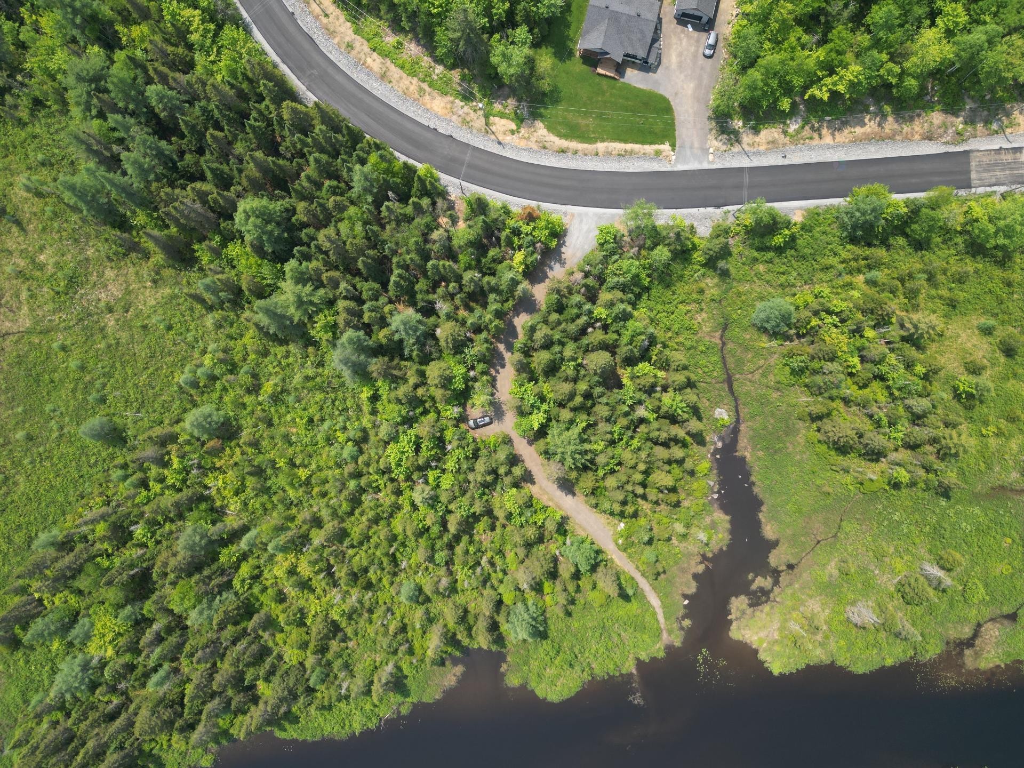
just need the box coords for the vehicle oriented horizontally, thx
[468,416,494,429]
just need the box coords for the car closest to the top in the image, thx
[703,30,718,59]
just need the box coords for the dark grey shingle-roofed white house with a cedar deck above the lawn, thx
[577,0,659,81]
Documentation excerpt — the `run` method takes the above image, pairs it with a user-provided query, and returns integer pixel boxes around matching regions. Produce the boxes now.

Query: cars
[468,416,494,429]
[703,30,718,59]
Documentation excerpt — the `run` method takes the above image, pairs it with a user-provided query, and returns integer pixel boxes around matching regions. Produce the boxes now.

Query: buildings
[577,0,659,81]
[674,0,717,27]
